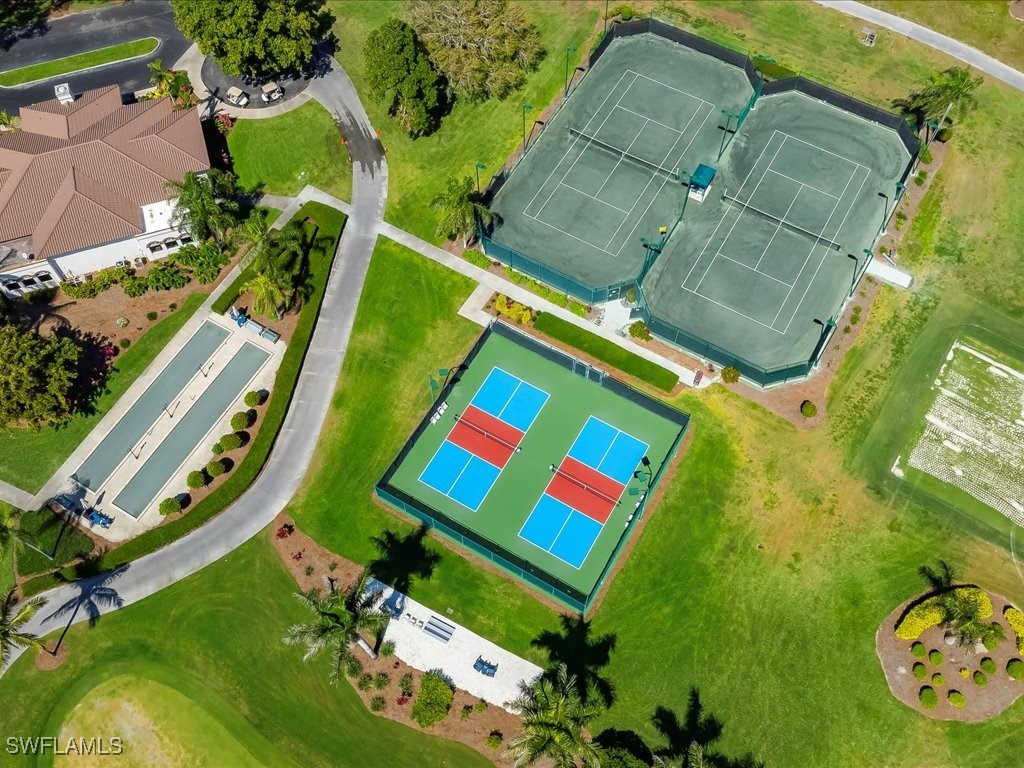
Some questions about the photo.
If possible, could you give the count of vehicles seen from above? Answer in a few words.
two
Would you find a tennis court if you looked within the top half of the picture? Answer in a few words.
Yes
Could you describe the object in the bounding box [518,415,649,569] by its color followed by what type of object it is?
blue sports court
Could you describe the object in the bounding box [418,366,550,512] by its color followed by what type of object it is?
blue sports court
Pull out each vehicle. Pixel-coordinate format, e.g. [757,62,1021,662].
[224,81,247,107]
[261,78,284,103]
